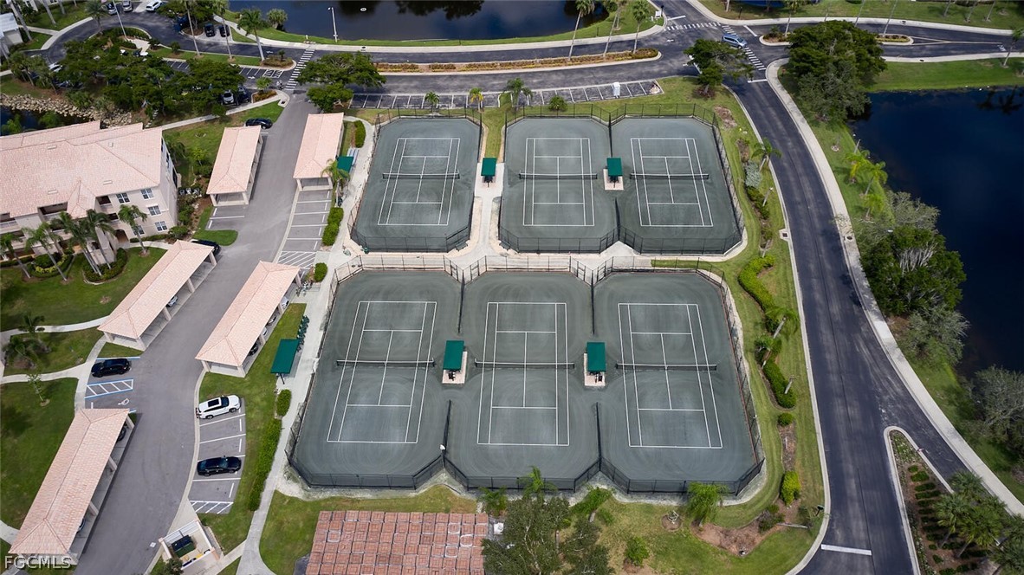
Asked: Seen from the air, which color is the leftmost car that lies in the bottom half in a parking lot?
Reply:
black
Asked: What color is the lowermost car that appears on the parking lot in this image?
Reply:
black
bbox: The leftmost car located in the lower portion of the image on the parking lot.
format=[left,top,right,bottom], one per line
[92,355,130,379]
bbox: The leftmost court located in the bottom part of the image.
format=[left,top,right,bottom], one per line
[291,271,461,489]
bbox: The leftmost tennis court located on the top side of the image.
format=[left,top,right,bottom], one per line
[351,118,479,251]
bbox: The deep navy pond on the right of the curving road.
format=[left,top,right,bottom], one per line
[848,87,1024,425]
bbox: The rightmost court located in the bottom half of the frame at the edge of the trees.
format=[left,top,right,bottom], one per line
[593,273,759,494]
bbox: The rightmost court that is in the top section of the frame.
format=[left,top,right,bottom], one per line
[611,118,740,253]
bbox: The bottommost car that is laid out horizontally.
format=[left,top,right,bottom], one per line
[198,455,242,478]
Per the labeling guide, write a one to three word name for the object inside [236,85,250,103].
car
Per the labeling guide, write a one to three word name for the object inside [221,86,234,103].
vehicle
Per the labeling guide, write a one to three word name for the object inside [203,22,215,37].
vehicle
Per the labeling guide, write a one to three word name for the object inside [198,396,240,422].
car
